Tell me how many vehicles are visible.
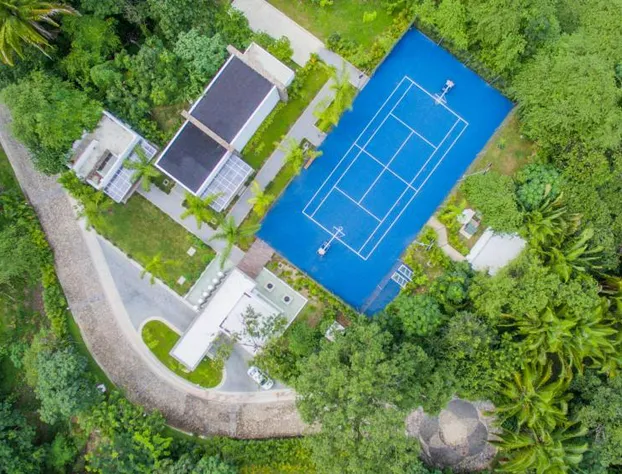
1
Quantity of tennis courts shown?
1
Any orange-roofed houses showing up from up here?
No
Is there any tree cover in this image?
Yes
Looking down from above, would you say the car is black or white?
white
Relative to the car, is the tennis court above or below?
above it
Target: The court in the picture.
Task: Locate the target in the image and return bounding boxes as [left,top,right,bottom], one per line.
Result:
[257,27,518,321]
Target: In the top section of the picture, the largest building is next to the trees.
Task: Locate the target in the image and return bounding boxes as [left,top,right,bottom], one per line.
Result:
[154,42,295,196]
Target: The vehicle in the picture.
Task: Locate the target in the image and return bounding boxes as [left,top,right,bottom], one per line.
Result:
[245,364,274,391]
